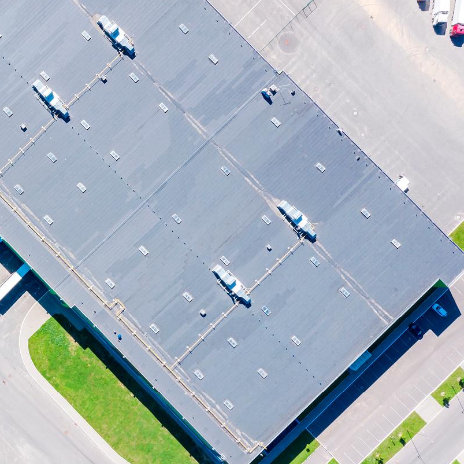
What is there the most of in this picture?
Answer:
buildings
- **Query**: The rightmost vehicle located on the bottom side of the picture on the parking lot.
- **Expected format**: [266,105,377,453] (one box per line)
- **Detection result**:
[432,303,447,317]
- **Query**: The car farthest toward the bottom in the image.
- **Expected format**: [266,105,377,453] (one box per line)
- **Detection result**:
[408,324,423,338]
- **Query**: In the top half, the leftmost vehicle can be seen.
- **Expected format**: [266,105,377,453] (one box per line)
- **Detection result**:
[394,173,411,190]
